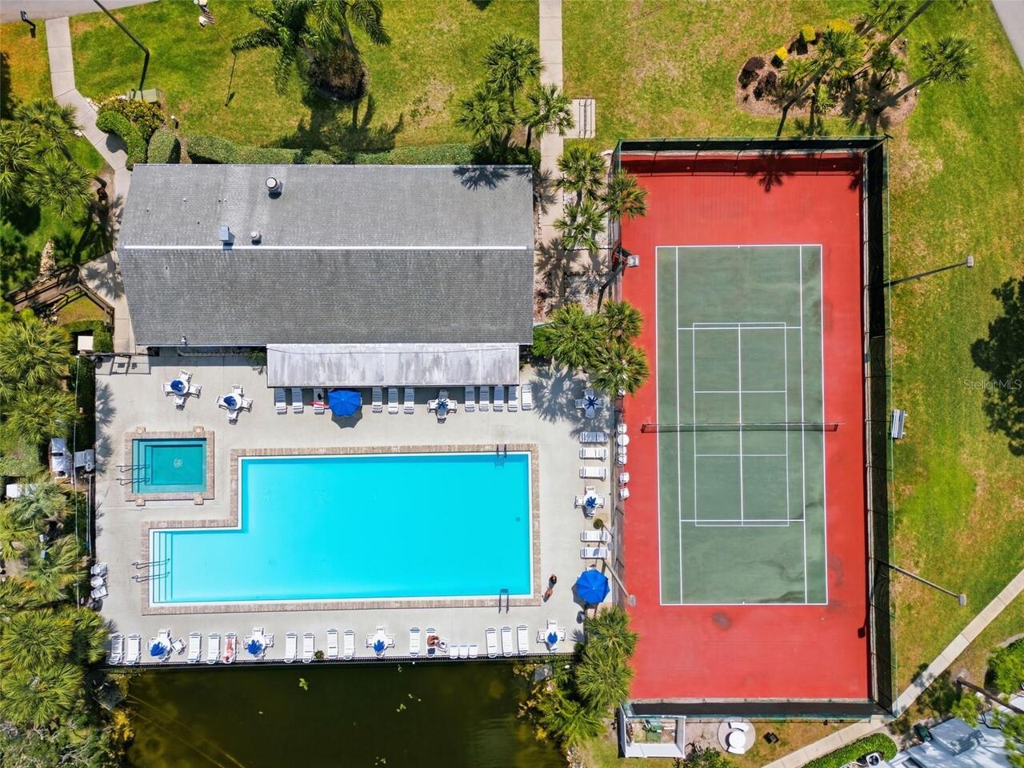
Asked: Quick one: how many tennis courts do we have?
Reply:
one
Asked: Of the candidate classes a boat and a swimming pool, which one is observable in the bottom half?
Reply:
swimming pool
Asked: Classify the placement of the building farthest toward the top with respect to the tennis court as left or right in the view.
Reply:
to the left of it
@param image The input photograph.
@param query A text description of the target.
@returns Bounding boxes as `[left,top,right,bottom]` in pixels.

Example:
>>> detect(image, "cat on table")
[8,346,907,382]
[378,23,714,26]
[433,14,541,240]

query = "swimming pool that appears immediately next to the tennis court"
[133,445,540,615]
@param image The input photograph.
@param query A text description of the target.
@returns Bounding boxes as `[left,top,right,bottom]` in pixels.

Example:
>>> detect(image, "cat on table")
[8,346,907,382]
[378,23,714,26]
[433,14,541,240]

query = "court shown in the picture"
[614,152,875,704]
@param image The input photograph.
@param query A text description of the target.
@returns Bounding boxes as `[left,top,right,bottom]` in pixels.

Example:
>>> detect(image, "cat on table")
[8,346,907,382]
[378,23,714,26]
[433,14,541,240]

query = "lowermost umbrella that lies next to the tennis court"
[574,568,610,605]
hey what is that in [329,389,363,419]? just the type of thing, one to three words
umbrella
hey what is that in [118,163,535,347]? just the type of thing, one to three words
building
